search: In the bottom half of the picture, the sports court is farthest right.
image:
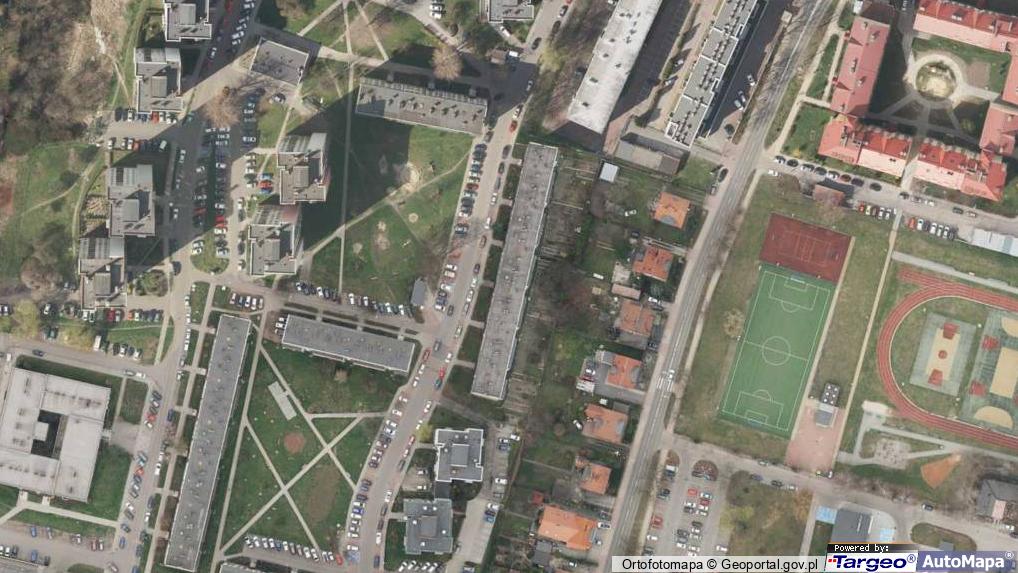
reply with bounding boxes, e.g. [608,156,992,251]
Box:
[962,309,1018,432]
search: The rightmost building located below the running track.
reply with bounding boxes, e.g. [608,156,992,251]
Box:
[977,477,1018,524]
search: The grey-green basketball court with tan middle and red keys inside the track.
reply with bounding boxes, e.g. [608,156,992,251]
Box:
[911,313,977,396]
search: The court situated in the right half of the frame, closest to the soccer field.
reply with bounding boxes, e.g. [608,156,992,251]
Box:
[761,213,852,283]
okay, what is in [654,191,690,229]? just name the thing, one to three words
house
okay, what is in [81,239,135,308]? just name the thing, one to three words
building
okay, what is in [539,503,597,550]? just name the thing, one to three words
house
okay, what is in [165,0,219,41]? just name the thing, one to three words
building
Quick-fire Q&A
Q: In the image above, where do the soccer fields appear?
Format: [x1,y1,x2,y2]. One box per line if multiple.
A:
[718,262,836,440]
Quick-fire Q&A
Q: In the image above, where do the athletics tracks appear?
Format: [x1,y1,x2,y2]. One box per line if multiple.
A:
[878,277,1018,448]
